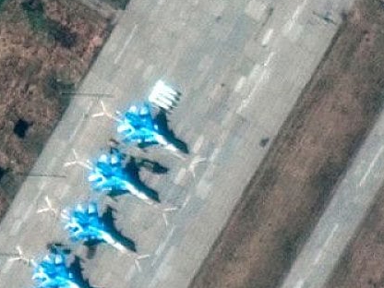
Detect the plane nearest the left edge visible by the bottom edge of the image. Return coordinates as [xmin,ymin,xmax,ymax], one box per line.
[29,254,80,288]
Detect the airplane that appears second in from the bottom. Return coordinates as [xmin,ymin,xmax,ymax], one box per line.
[62,205,125,249]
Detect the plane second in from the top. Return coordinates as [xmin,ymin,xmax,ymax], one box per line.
[84,155,149,199]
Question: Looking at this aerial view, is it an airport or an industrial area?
airport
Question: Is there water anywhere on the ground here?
No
